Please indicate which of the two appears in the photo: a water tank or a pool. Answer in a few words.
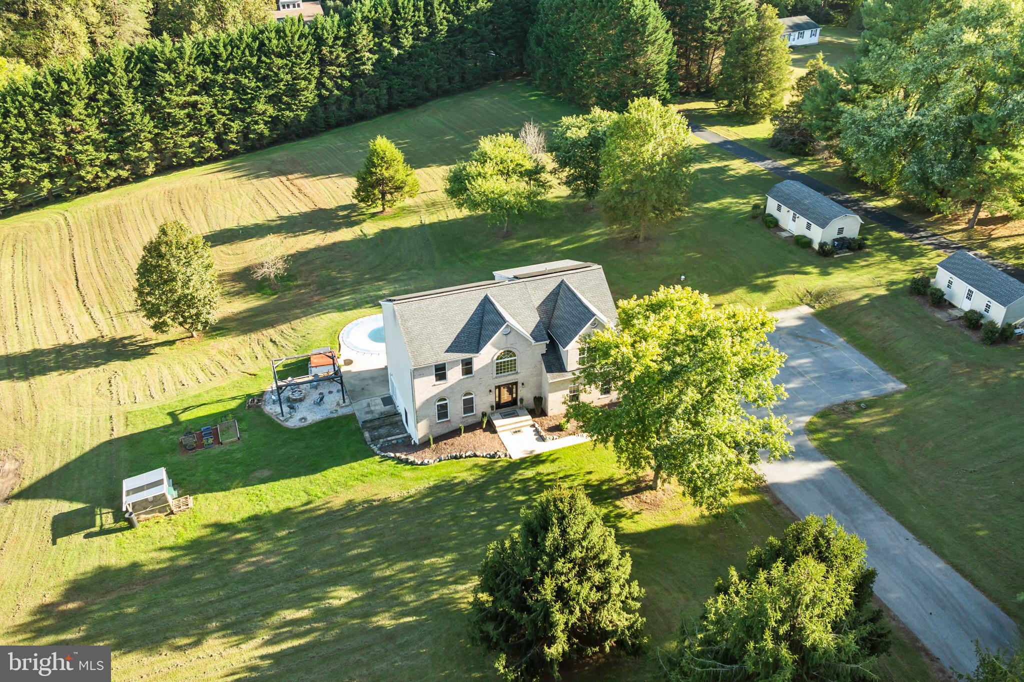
pool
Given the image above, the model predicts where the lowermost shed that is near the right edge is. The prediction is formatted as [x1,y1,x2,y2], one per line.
[936,250,1024,326]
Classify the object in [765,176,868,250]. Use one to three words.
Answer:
shed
